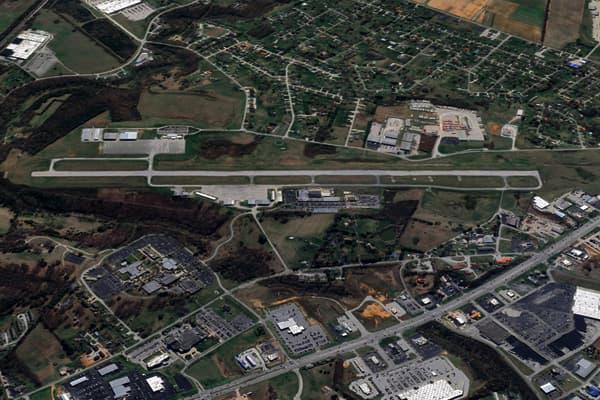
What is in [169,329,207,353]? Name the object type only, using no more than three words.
building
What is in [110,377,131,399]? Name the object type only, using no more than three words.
building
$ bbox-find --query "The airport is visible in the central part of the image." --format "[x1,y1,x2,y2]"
[32,139,543,201]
